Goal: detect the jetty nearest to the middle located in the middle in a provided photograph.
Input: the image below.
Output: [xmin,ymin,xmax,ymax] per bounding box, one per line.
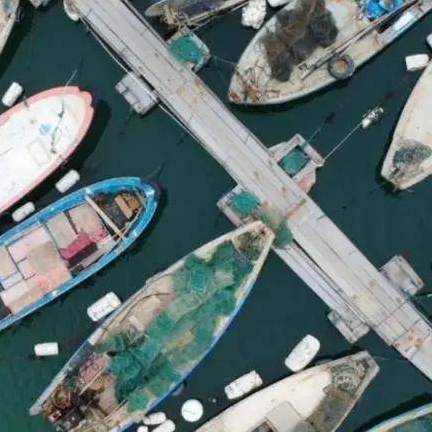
[216,187,271,228]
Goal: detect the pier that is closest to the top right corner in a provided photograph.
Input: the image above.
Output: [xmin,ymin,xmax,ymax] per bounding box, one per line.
[266,133,323,185]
